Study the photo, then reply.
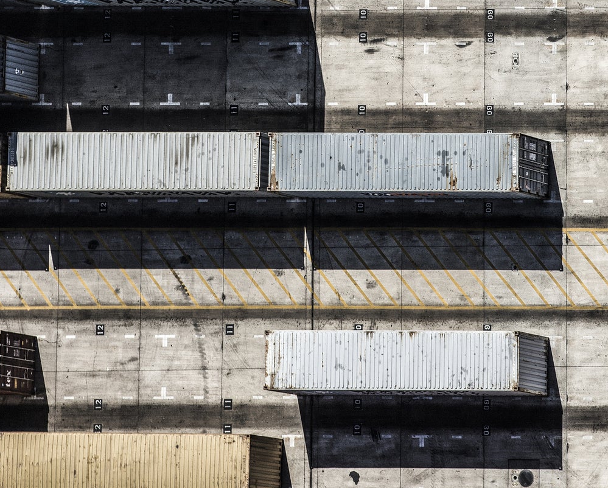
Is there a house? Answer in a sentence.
No, the photo shows no house.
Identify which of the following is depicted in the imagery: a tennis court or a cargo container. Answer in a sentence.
I can see a cargo container in this picture.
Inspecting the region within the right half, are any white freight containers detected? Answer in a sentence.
Yes, there is a white freight container within the right half.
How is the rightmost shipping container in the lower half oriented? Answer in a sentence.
In this picture, the rightmost shipping container in the lower half is oriented from left to right.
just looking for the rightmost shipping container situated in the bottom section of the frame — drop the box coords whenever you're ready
[262,329,548,395]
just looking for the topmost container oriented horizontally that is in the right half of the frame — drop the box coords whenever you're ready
[267,133,548,199]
